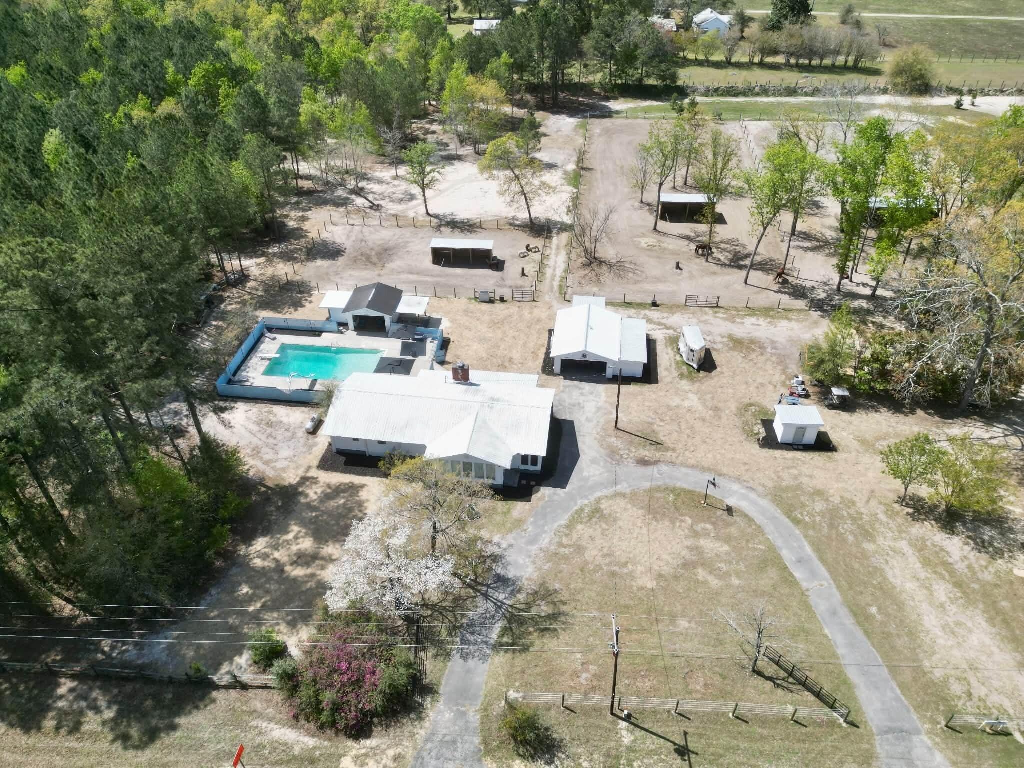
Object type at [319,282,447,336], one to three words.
building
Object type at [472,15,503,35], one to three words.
barn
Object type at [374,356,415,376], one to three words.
umbrella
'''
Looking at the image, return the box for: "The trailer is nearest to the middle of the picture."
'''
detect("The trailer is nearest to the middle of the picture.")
[677,326,705,372]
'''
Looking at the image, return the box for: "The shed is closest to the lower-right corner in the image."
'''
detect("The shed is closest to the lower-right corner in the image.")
[774,404,826,443]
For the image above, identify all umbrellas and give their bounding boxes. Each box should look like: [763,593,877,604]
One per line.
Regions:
[374,356,415,376]
[386,319,416,343]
